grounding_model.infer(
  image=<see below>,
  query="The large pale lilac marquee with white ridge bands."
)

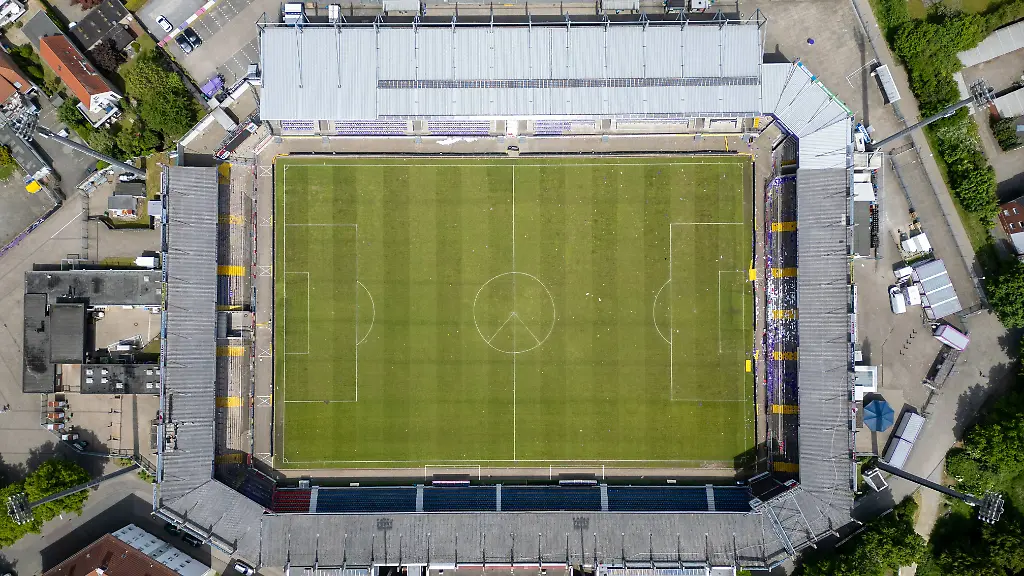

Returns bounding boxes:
[909,260,962,320]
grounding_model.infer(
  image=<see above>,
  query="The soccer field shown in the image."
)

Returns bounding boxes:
[274,156,753,469]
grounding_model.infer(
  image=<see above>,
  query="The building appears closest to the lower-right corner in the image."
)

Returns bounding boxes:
[859,466,888,491]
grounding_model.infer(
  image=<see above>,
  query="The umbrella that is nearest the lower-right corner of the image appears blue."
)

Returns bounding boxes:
[861,401,893,432]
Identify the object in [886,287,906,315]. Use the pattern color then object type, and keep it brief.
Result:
white vehicle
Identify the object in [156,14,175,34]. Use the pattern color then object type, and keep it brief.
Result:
white car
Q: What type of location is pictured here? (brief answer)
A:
sports ground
